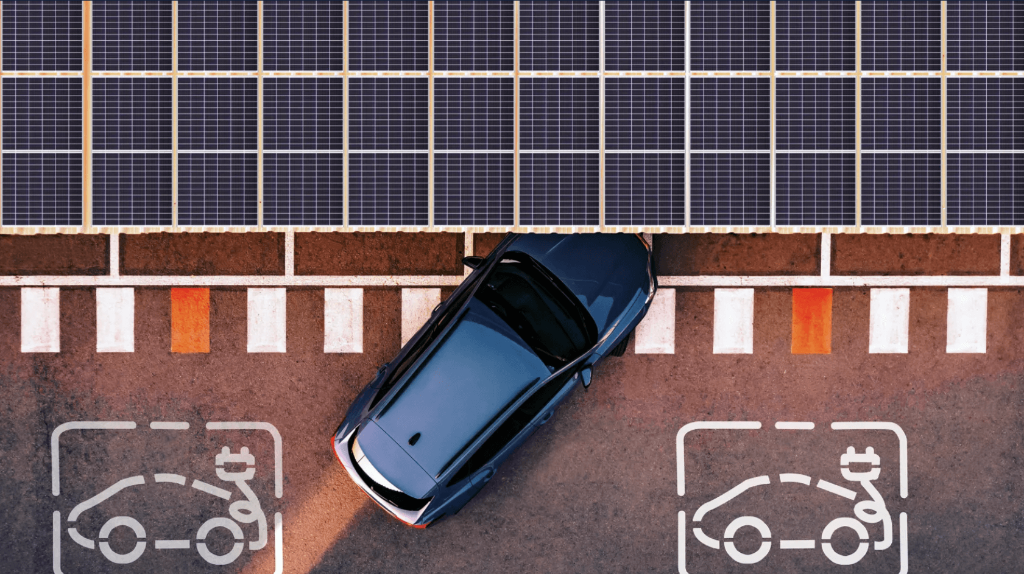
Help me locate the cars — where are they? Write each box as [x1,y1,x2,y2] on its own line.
[334,232,660,525]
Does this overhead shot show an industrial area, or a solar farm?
solar farm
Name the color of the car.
blue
